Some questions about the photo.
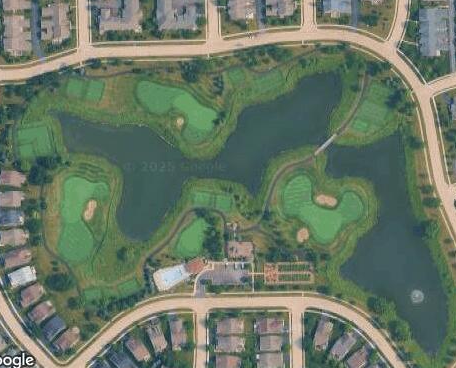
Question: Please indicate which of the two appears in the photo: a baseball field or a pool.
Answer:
pool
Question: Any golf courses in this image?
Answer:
Yes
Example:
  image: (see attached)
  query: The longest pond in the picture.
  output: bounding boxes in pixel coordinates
[48,72,447,355]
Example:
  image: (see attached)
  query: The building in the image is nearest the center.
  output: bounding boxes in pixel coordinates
[228,240,252,260]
